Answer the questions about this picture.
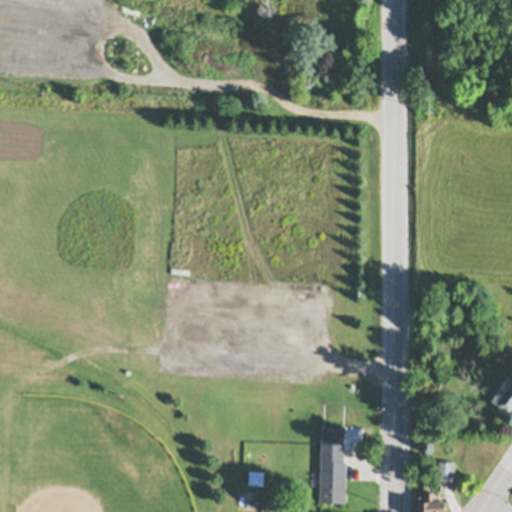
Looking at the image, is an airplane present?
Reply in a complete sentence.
No, the picture doesn't show any airplane.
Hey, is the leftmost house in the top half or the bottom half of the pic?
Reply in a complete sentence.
The leftmost house sits in the bottom half of the picture.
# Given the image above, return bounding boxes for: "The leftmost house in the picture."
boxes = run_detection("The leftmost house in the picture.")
[320,422,347,506]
